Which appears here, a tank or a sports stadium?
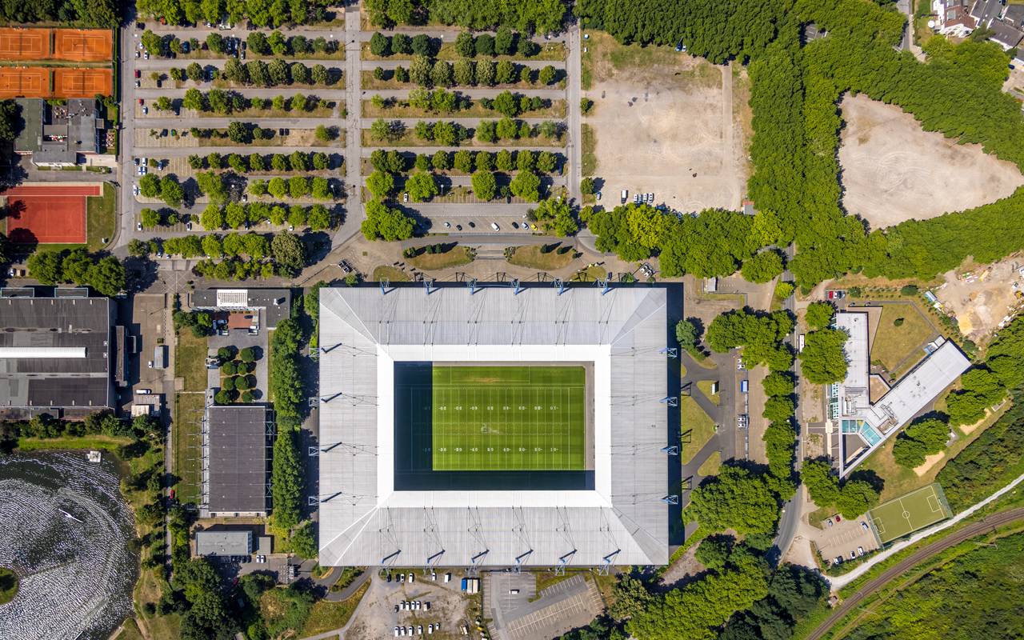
sports stadium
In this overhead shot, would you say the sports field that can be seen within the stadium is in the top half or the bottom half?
bottom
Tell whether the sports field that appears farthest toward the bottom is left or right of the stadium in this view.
on the right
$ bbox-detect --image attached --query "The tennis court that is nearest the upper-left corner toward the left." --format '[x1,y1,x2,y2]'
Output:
[0,29,50,59]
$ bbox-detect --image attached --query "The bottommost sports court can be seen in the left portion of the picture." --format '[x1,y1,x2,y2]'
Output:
[7,196,87,244]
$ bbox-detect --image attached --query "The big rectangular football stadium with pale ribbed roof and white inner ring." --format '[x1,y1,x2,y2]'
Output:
[308,277,678,577]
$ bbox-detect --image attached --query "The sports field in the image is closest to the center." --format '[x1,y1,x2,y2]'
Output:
[394,362,595,491]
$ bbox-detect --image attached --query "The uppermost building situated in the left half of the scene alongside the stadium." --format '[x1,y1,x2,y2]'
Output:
[191,289,292,329]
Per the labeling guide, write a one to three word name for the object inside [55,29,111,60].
tennis court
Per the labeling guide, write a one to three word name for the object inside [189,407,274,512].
building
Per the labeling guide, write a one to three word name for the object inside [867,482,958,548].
sports field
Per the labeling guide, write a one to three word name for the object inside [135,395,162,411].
shed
